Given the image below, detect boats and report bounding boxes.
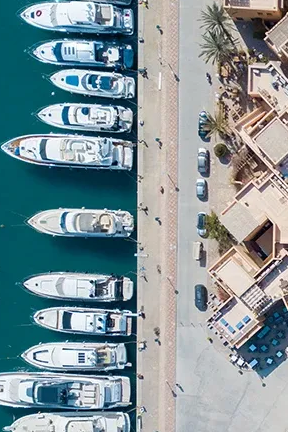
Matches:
[0,371,136,407]
[0,135,138,175]
[18,5,141,40]
[124,44,135,70]
[4,403,136,432]
[25,42,138,74]
[36,105,142,139]
[13,272,142,306]
[19,341,133,370]
[27,210,142,240]
[49,71,147,101]
[34,307,142,337]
